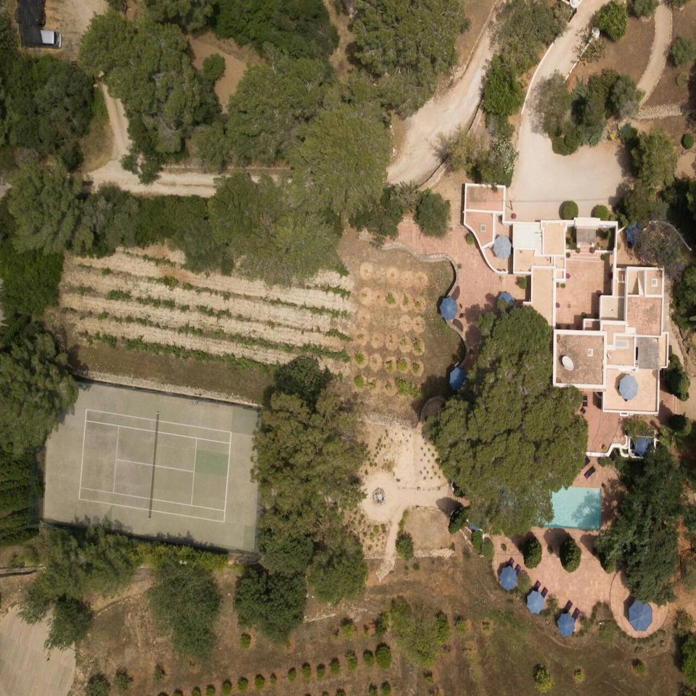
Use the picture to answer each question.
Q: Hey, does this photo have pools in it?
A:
Yes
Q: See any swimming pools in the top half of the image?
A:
No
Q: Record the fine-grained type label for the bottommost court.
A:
tennis court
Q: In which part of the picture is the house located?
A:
right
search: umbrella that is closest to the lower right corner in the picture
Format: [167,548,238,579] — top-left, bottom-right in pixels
[629,601,651,629]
